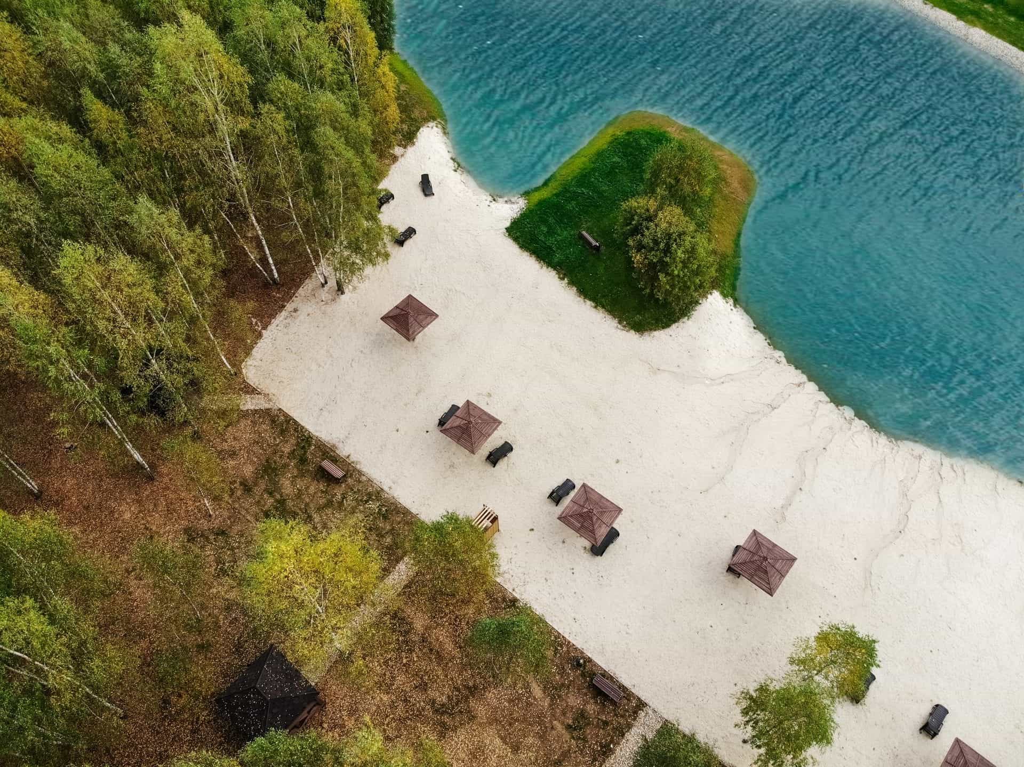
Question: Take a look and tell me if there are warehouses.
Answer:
No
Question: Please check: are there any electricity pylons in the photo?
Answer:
No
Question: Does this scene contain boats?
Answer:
No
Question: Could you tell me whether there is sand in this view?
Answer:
Yes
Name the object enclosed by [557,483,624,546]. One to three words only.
umbrella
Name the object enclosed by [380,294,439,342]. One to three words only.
umbrella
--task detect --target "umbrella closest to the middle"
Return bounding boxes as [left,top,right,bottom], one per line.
[439,399,503,455]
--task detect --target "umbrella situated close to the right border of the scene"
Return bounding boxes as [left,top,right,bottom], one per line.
[941,737,999,767]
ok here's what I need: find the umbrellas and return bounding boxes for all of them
[439,399,503,455]
[380,294,439,342]
[729,528,798,596]
[941,737,999,767]
[557,483,624,546]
